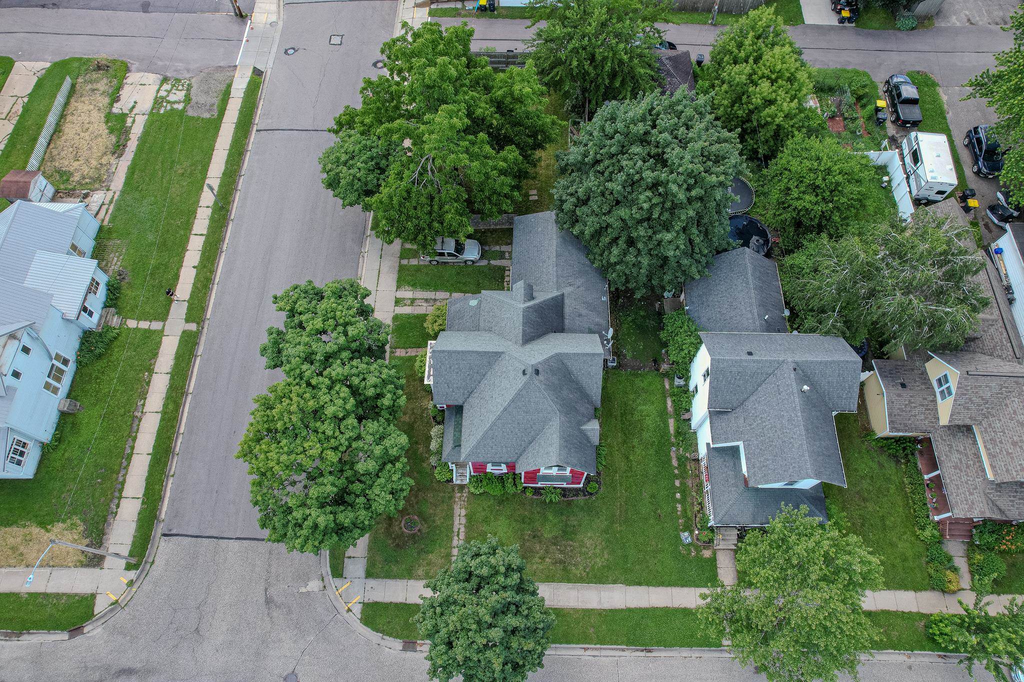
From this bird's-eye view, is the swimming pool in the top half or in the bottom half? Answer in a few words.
top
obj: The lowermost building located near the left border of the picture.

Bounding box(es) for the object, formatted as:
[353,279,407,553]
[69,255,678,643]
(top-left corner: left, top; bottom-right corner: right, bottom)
[0,193,128,480]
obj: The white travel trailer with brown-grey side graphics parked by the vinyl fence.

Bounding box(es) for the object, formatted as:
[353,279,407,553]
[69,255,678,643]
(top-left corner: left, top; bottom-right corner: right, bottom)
[899,130,959,204]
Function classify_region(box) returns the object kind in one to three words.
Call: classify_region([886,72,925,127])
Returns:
truck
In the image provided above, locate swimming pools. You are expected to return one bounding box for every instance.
[714,211,773,257]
